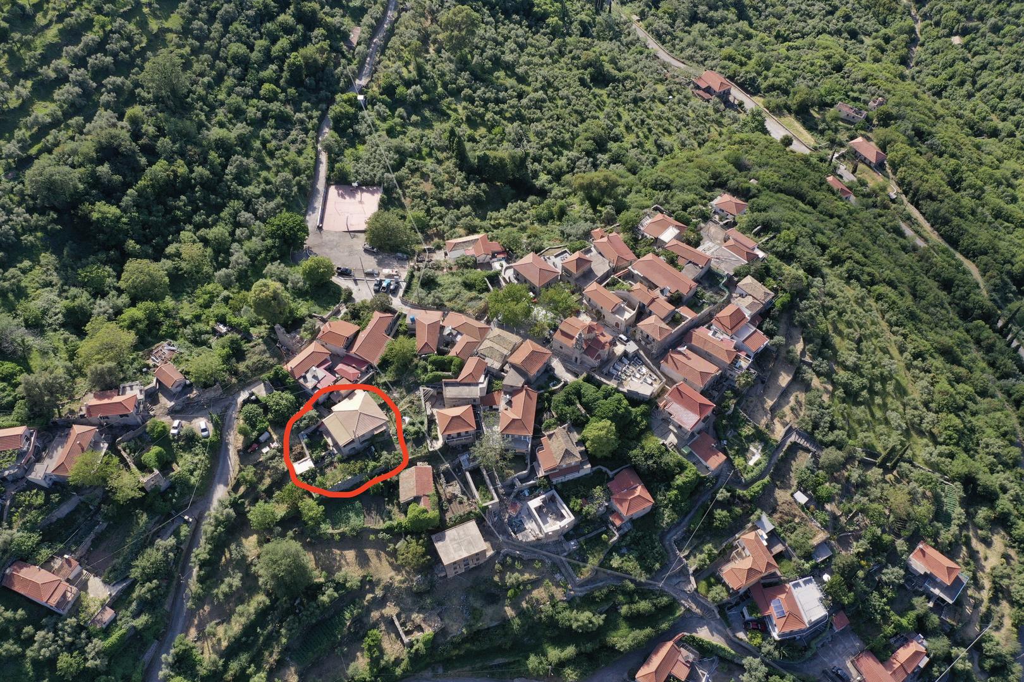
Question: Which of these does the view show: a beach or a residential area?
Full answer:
This image shows a residential area.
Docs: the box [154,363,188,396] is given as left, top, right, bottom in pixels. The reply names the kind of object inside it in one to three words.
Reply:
house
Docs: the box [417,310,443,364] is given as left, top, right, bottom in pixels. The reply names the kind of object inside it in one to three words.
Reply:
house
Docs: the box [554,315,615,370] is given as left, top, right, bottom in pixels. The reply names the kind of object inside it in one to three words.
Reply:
building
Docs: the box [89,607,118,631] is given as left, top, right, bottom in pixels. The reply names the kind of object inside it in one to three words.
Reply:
shed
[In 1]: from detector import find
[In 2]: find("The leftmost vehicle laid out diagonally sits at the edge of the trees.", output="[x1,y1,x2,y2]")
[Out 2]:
[169,419,182,434]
